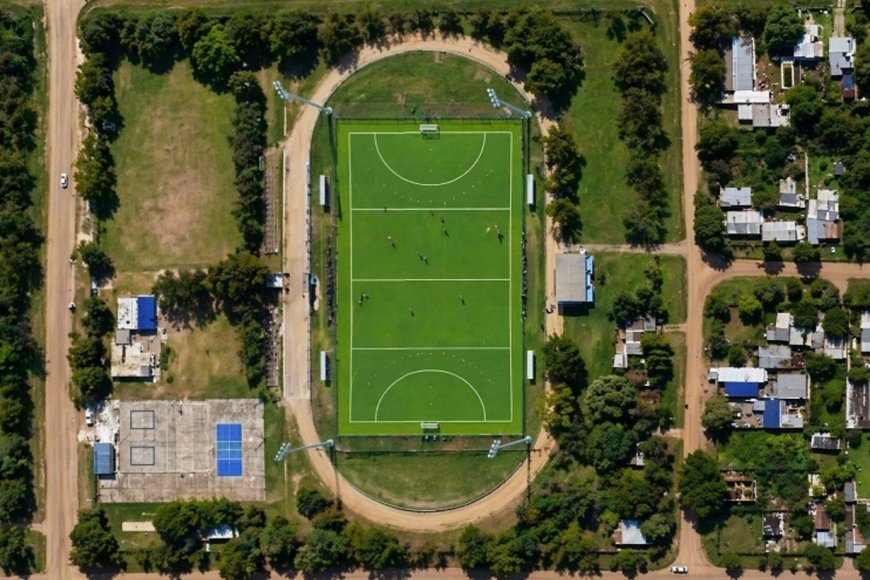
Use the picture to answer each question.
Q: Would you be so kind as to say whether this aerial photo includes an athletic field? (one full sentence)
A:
Yes, an athletic field is visible in the scene.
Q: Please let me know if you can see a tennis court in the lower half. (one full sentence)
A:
Yes, a tennis court shows up in the lower half.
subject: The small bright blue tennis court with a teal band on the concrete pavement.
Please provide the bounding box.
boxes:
[217,424,242,476]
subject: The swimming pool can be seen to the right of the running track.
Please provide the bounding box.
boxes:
[782,60,794,88]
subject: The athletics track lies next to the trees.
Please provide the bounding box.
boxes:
[285,30,564,532]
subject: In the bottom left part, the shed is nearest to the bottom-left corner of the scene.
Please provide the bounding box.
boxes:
[94,442,119,475]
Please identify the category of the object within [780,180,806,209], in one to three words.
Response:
house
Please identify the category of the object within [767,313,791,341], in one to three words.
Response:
house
